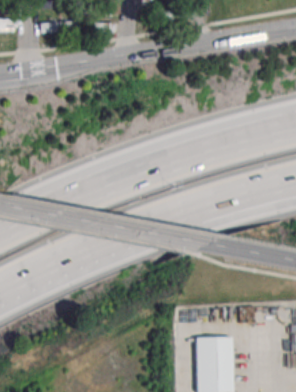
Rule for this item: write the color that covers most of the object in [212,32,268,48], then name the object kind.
white vehicle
